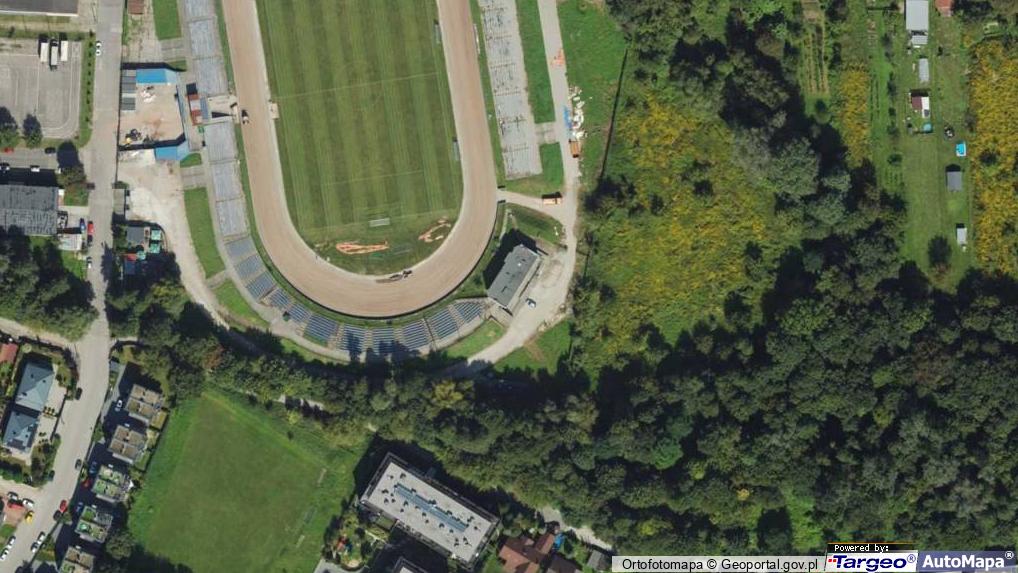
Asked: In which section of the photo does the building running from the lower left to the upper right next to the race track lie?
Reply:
center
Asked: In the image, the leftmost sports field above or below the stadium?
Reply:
below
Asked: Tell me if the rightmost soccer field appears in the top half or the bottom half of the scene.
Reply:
top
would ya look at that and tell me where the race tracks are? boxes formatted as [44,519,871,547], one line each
[223,0,497,317]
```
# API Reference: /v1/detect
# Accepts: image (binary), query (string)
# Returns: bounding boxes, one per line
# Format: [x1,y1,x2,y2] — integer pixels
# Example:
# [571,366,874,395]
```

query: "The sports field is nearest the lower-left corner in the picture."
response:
[136,396,360,573]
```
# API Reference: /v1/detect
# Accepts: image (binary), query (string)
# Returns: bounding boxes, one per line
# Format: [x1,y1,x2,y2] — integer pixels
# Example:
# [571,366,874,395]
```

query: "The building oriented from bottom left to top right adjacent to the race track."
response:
[487,243,543,309]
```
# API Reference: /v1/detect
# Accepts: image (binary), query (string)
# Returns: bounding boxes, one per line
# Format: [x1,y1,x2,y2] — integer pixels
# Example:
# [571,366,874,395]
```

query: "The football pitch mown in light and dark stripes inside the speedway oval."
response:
[265,0,459,232]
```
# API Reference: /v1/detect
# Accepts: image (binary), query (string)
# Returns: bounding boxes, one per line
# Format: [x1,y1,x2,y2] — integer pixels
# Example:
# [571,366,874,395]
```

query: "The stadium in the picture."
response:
[177,0,543,366]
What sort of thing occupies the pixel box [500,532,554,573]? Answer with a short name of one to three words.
house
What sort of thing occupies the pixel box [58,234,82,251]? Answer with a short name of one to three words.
shed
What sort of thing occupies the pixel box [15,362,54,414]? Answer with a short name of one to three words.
house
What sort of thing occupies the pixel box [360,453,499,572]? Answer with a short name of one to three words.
building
